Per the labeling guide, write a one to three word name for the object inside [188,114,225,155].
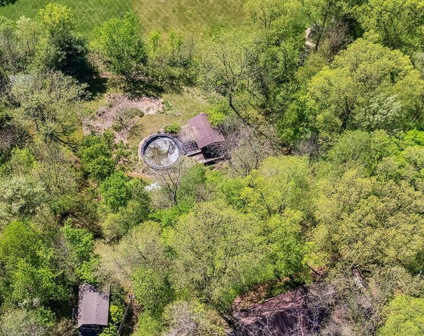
building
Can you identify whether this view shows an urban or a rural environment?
rural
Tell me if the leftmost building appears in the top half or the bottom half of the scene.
bottom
